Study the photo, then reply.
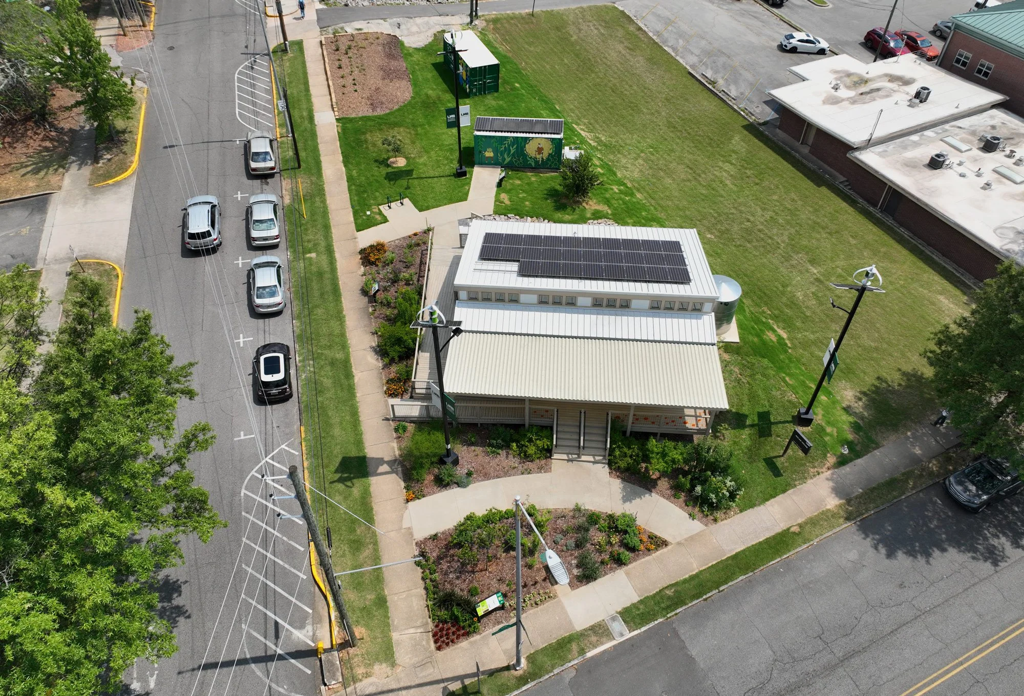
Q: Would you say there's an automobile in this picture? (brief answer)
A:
Yes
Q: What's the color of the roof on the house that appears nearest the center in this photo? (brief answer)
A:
white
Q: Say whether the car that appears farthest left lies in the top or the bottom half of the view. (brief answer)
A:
top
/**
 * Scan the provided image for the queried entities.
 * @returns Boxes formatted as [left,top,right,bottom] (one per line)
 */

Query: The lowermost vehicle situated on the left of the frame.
[250,344,293,407]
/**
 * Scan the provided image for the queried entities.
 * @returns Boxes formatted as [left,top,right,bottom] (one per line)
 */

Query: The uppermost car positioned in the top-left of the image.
[246,132,279,178]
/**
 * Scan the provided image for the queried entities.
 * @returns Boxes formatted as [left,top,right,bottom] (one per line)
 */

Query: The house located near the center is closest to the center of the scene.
[387,219,727,466]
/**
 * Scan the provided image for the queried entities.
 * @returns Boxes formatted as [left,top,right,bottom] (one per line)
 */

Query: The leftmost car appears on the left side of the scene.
[185,200,223,256]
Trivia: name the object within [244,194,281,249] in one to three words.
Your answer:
car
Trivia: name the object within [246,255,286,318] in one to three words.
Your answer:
car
